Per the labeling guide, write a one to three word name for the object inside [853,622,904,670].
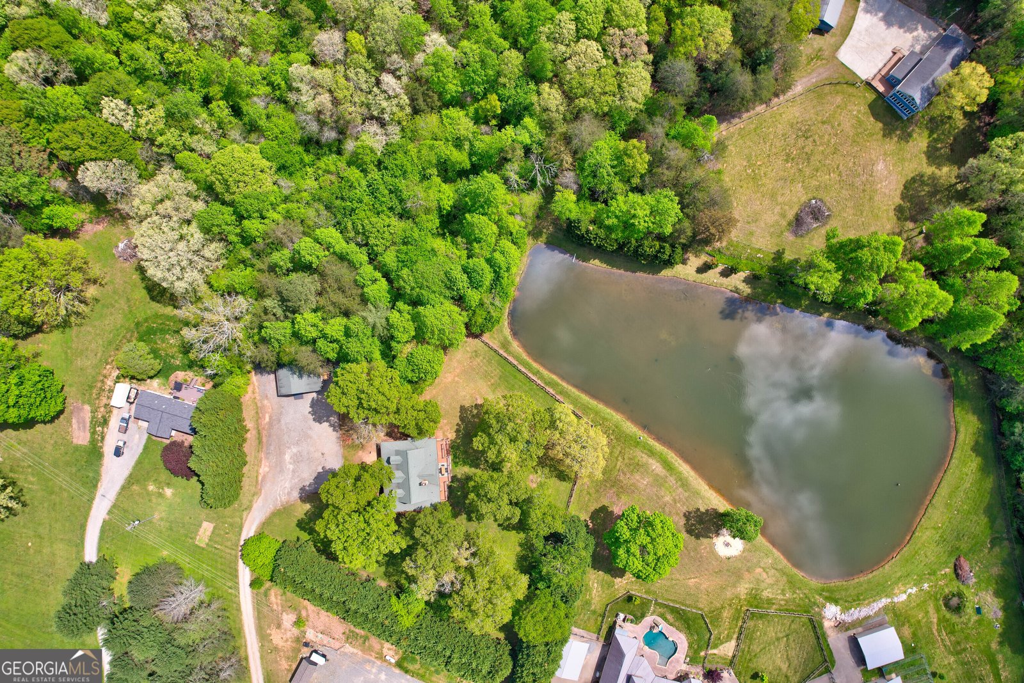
barn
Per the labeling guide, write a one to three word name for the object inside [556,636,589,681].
building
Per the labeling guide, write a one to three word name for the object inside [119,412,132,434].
vehicle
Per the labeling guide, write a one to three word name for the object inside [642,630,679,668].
swimming pool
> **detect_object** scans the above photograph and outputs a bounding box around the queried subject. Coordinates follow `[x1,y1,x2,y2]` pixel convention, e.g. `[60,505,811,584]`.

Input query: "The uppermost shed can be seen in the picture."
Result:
[808,0,843,31]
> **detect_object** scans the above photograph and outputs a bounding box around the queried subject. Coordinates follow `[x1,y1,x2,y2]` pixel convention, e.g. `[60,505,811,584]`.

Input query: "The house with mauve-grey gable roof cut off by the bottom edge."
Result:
[290,655,318,683]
